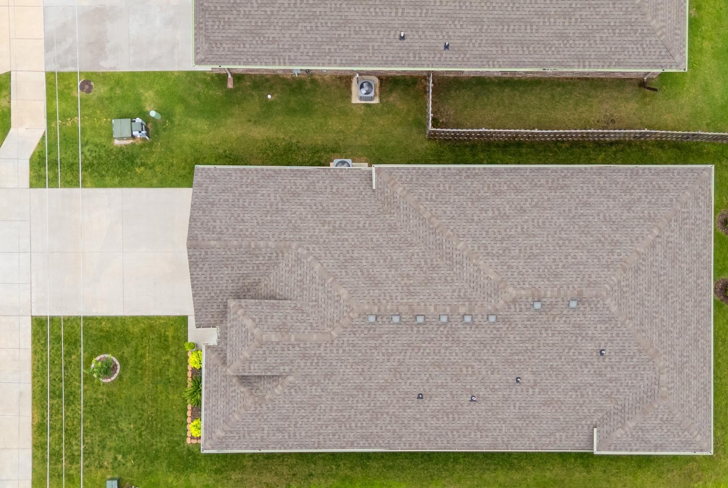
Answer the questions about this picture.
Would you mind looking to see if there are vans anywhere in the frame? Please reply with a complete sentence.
No, no van is visible in the scene.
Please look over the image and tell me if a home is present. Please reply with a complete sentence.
Yes, the image includes a home.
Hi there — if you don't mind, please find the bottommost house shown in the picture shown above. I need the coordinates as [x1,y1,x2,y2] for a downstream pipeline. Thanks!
[184,164,715,454]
